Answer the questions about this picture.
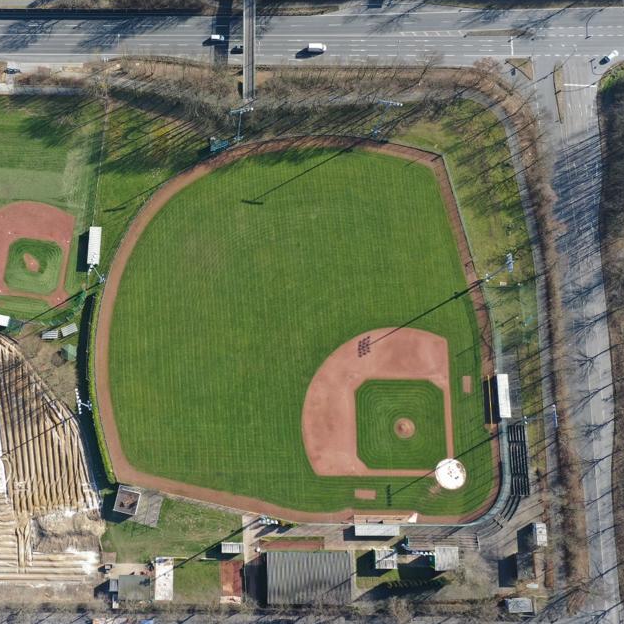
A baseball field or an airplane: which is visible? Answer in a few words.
baseball field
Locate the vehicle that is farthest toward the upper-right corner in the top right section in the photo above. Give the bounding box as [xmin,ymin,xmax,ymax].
[606,48,621,61]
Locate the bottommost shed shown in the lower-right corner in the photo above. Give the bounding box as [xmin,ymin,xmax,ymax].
[504,596,534,613]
